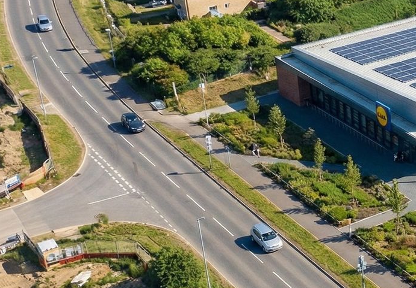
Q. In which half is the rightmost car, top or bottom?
bottom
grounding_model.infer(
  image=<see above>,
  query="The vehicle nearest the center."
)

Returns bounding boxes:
[120,110,144,132]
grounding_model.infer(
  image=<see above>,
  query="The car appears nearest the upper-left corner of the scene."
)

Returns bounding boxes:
[36,15,51,28]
